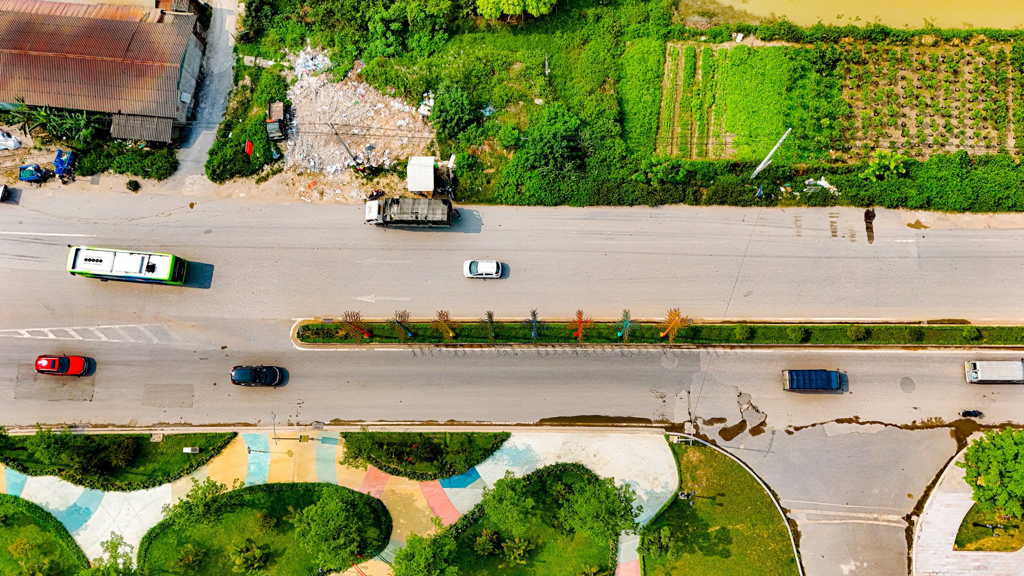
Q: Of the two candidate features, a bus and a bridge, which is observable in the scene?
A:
bus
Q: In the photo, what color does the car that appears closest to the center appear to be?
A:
white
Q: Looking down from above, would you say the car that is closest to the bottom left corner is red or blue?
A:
red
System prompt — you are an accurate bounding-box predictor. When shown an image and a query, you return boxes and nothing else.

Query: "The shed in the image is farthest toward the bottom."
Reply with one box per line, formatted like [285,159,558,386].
[408,156,437,197]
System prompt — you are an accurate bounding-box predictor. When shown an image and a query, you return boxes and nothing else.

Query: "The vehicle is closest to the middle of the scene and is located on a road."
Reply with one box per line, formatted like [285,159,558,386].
[464,257,502,279]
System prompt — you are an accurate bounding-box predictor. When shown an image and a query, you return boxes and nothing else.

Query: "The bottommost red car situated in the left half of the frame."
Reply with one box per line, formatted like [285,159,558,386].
[32,352,91,377]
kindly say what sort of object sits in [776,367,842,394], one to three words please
truck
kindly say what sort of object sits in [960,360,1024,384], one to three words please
vehicle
